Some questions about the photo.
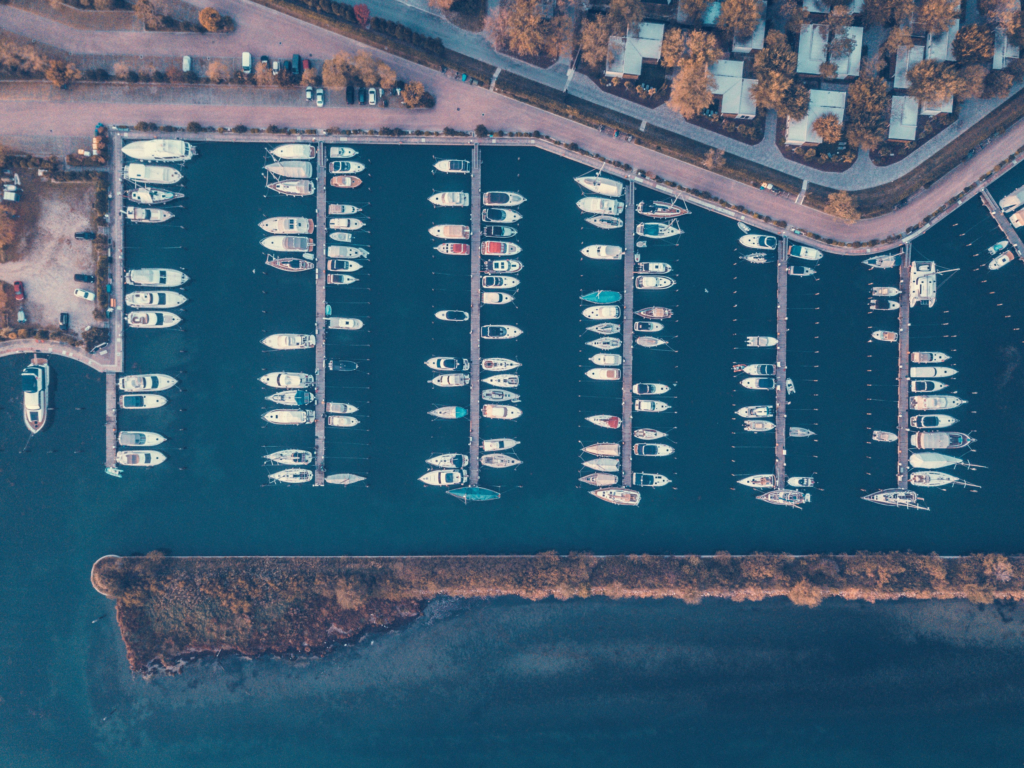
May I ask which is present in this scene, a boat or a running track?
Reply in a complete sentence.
The one in the frame is a boat.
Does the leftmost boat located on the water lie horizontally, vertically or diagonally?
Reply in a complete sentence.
In this picture, the leftmost boat located on the water is oriented vertically.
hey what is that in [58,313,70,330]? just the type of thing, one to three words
vehicle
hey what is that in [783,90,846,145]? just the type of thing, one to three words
house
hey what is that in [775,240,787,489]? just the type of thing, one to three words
pier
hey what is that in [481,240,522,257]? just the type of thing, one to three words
boat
